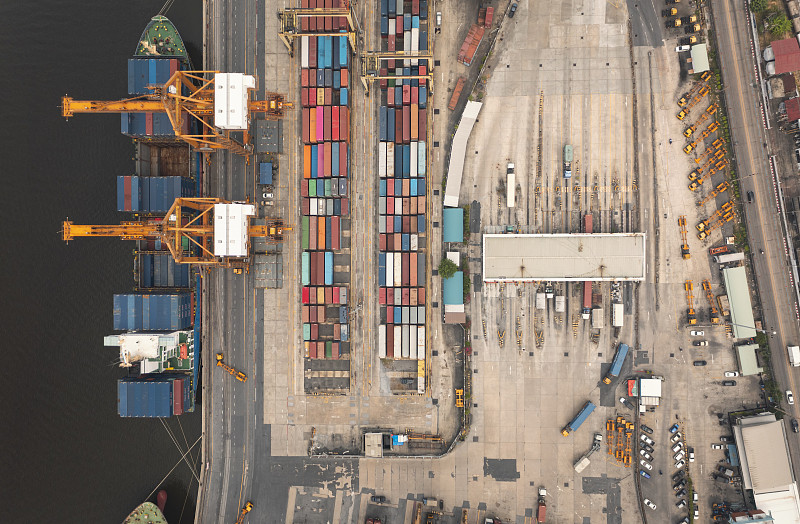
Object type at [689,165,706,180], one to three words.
vehicle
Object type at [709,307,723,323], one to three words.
vehicle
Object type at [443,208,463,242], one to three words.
building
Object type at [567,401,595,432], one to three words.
shipping container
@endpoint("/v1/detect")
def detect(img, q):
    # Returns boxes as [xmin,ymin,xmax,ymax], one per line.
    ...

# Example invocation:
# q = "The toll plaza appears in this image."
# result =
[483,233,646,283]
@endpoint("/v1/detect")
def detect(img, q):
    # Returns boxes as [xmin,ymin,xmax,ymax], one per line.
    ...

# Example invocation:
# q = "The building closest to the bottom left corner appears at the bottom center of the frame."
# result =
[365,430,383,458]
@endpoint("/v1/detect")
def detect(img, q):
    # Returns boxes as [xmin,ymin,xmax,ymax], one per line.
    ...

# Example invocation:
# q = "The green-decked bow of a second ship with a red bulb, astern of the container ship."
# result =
[129,490,169,524]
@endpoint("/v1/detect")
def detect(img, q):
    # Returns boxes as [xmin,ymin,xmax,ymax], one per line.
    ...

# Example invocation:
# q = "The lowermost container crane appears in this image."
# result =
[53,197,294,269]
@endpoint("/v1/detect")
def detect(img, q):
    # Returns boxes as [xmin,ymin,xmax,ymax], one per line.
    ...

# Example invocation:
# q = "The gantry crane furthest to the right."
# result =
[356,50,435,99]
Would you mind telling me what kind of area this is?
port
